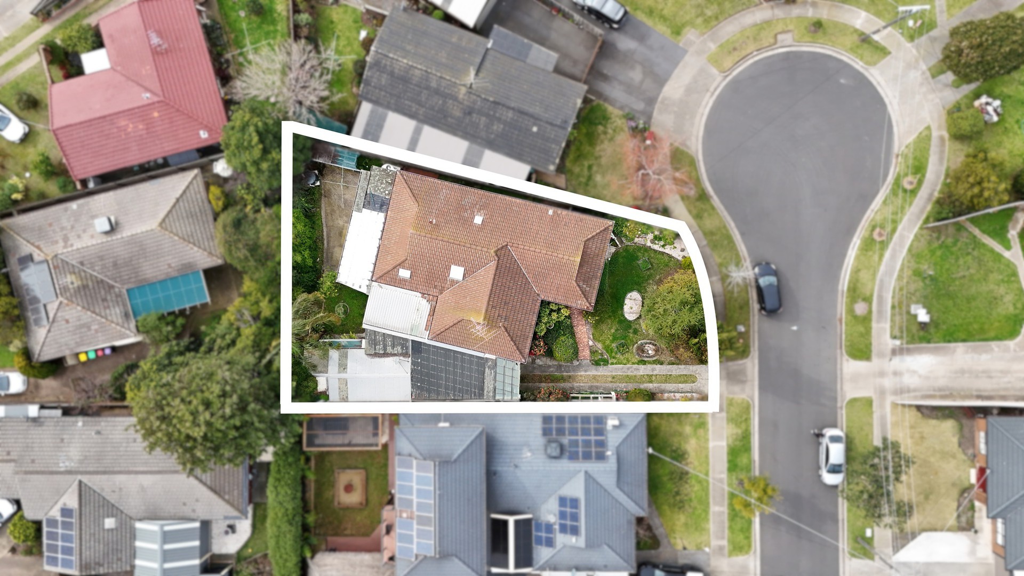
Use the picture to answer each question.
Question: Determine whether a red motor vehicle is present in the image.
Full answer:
No, there's no red motor vehicle here.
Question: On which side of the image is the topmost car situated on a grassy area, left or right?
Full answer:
The topmost car situated on a grassy area appears in the left half of the scene.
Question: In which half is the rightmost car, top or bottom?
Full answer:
It is in the bottom half that the rightmost car appears.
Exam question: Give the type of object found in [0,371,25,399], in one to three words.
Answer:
car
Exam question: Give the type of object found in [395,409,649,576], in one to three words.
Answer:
house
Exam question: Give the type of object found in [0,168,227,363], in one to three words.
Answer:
house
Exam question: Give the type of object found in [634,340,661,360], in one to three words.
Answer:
fountain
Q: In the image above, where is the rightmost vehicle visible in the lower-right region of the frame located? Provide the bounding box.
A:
[820,429,850,487]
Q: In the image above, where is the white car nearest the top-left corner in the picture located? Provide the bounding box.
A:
[0,103,27,140]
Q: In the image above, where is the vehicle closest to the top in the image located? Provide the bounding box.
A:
[571,0,631,30]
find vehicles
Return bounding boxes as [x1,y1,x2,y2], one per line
[0,499,16,524]
[820,429,850,487]
[571,0,631,30]
[0,371,25,399]
[752,261,783,315]
[0,103,27,140]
